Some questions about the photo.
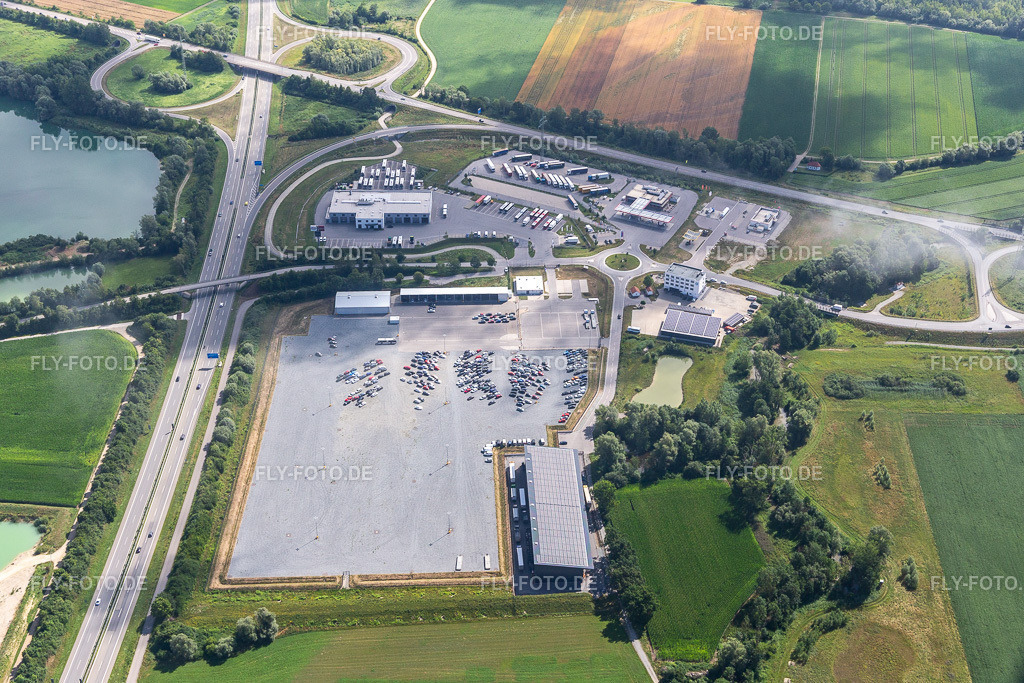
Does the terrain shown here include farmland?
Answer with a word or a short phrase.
Yes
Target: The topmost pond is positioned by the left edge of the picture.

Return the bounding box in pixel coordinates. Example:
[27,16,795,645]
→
[0,265,96,306]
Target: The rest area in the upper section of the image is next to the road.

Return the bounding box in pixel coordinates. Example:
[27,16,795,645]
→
[448,150,698,259]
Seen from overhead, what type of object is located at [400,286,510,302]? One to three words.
shed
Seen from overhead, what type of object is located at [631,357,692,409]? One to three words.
pond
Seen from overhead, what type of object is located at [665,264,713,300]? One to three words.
building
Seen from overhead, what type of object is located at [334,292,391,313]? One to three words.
hangar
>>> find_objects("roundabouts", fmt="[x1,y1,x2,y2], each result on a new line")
[596,249,651,275]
